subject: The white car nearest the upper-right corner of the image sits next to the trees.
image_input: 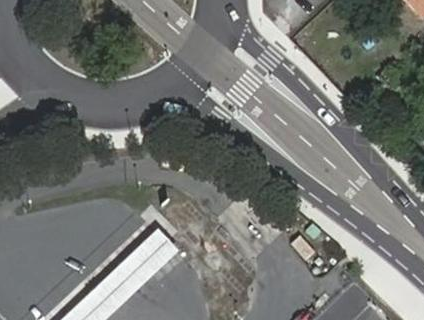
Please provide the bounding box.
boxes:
[316,108,338,128]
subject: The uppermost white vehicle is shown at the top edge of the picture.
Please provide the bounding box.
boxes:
[225,2,240,24]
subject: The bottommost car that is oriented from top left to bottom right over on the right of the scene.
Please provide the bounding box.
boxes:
[246,222,263,240]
